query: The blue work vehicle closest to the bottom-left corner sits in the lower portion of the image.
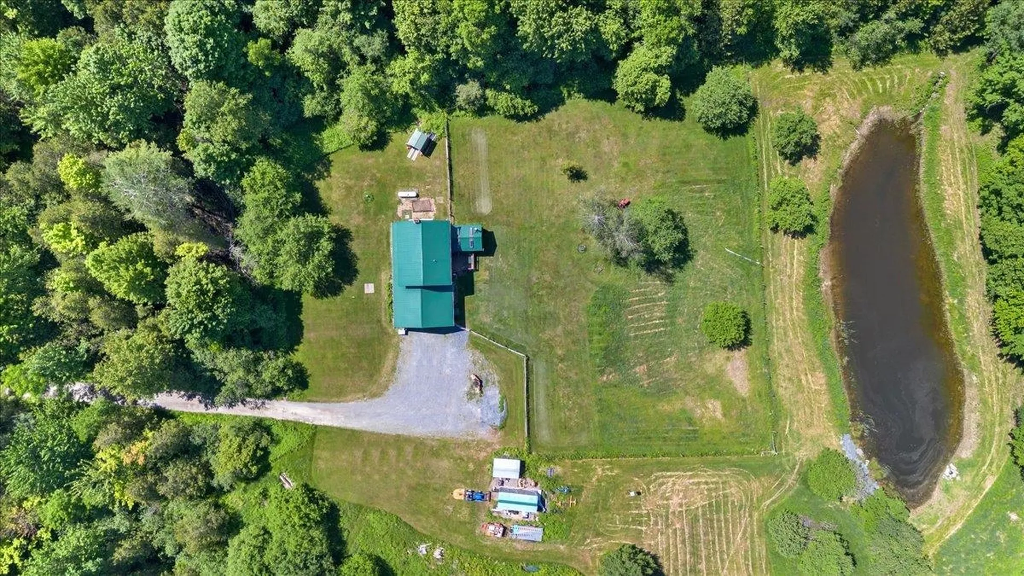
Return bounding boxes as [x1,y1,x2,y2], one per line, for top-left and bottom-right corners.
[468,490,493,504]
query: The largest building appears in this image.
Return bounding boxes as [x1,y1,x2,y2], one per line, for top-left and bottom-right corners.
[391,215,484,329]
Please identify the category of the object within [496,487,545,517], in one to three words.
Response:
shed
